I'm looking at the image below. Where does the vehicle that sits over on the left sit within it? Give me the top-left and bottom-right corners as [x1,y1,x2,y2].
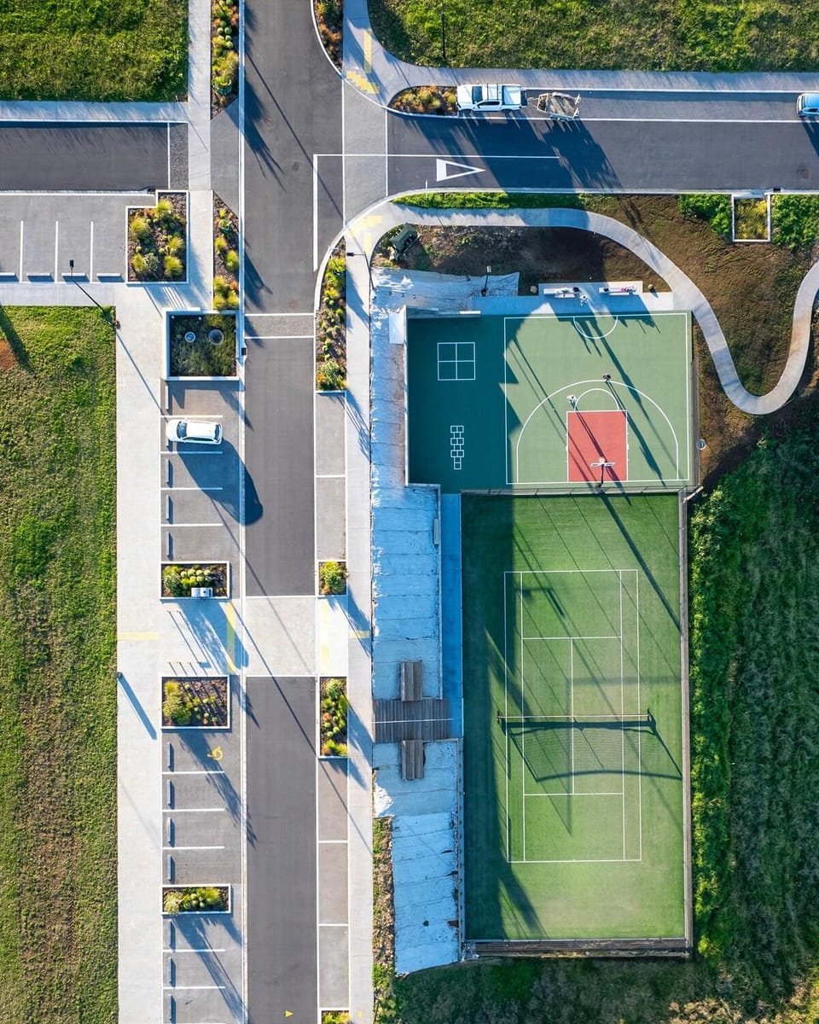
[167,415,223,445]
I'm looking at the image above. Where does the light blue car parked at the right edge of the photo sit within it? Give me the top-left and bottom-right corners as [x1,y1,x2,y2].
[799,84,819,112]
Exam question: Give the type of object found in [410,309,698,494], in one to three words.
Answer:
basketball court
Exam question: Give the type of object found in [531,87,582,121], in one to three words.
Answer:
trailer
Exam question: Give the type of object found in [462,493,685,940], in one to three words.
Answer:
tennis court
